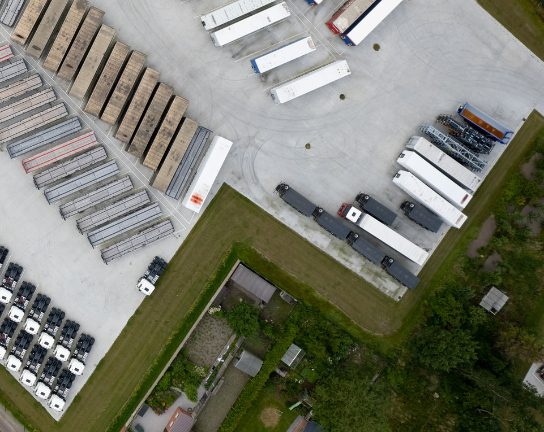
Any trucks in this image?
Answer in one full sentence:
Yes, a truck is visible in the scene.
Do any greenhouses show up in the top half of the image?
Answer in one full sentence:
No, there is no greenhouse in the top half of the image.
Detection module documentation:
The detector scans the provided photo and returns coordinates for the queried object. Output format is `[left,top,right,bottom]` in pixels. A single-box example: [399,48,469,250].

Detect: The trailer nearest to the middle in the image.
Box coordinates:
[269,176,318,219]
